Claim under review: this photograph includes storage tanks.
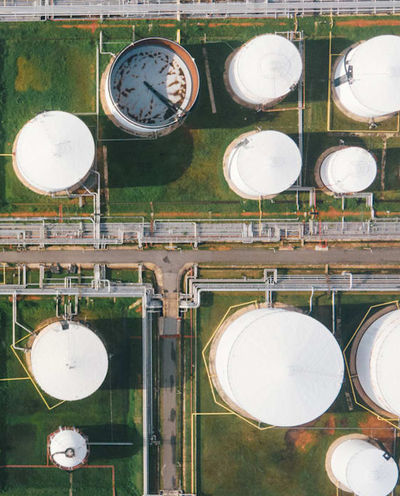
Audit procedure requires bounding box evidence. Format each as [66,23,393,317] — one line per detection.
[22,315,110,401]
[43,425,91,471]
[330,33,400,121]
[221,31,303,110]
[10,111,96,197]
[222,128,303,203]
[95,34,202,140]
[349,303,400,424]
[209,302,345,428]
[314,143,378,200]
[325,435,399,496]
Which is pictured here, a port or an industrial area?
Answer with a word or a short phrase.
industrial area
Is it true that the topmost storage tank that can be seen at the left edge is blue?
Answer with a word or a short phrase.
No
